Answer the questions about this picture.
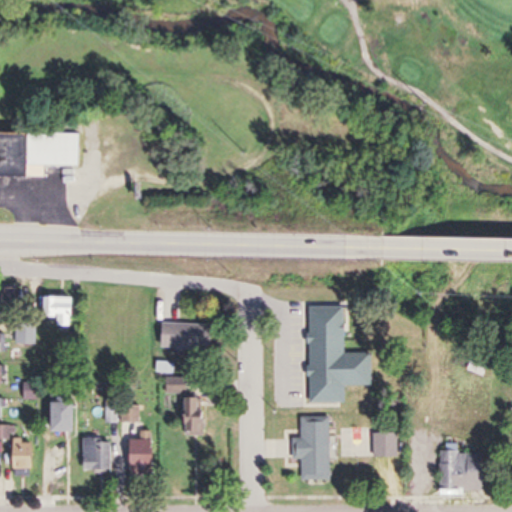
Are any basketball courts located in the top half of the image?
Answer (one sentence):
No, in the top half of the image there is no basketball court.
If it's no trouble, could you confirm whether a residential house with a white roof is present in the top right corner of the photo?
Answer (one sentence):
No, I see no residential house with a white roof in the top right corner of the photo.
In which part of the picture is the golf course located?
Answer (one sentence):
The golf course appears toward the top right of the photo.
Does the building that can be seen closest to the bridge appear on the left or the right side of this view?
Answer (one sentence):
The building that can be seen closest to the bridge appears in the right half of the scene.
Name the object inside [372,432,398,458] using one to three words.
building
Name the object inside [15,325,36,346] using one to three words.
building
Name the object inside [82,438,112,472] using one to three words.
house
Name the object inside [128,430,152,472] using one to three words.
house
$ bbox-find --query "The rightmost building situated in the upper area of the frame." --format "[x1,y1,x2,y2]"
[26,132,79,177]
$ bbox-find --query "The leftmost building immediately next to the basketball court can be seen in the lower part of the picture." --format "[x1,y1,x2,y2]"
[293,416,330,482]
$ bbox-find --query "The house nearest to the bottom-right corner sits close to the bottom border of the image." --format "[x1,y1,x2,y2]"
[440,442,468,495]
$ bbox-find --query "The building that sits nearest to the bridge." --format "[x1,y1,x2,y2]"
[308,306,372,403]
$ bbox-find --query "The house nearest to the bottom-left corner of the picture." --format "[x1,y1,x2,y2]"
[11,438,30,477]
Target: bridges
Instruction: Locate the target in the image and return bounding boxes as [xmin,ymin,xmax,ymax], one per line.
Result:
[382,232,512,263]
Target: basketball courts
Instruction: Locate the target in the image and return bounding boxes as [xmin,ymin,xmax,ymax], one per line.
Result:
[340,428,372,458]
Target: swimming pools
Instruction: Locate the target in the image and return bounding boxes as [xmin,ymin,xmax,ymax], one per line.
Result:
[8,408,19,418]
[91,406,104,418]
